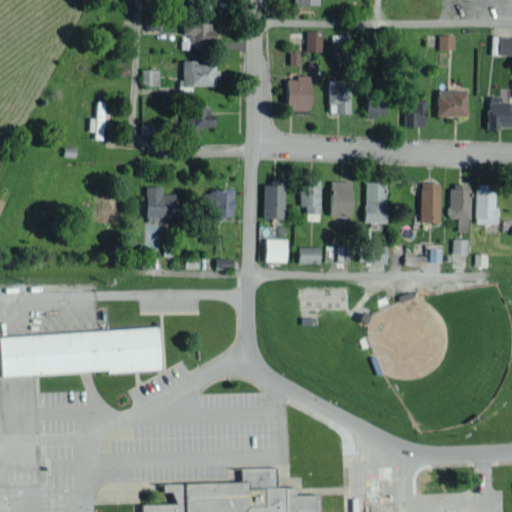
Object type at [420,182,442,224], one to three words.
house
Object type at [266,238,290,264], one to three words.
building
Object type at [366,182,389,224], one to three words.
house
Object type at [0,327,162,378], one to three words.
building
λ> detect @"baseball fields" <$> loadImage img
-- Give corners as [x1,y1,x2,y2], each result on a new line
[368,283,512,434]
